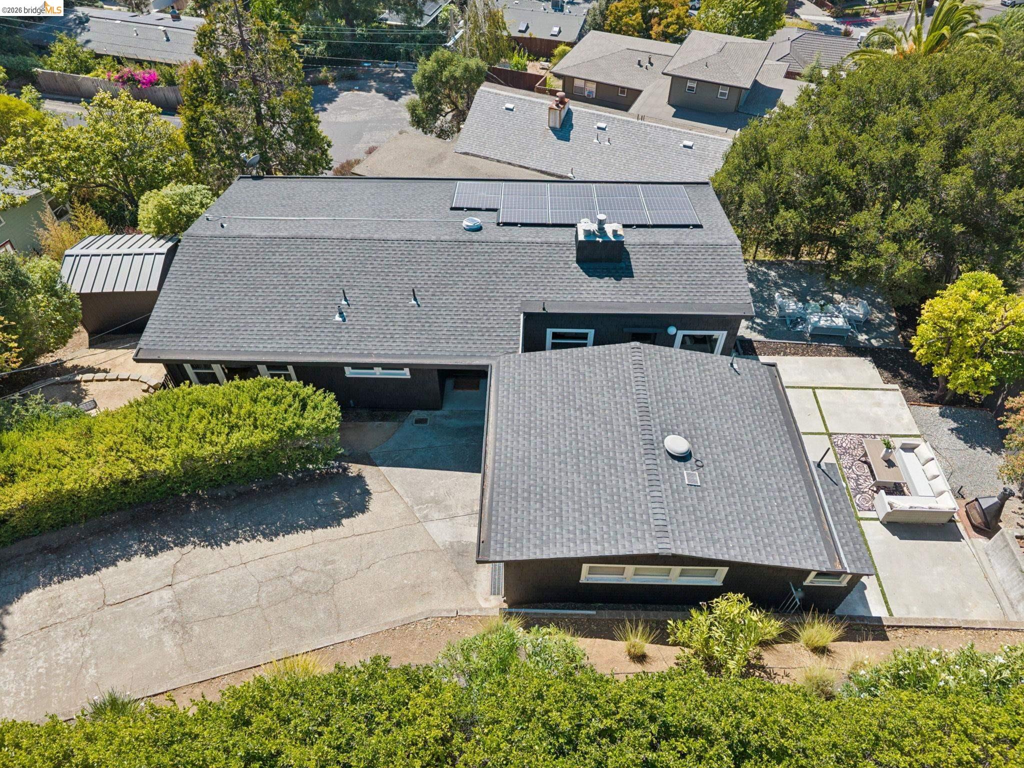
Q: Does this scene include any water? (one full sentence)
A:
No, the scene doesn't show any water.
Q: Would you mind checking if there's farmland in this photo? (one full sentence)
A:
No, farmland can't be seen anywhere here.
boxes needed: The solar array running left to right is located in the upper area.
[447,178,708,229]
